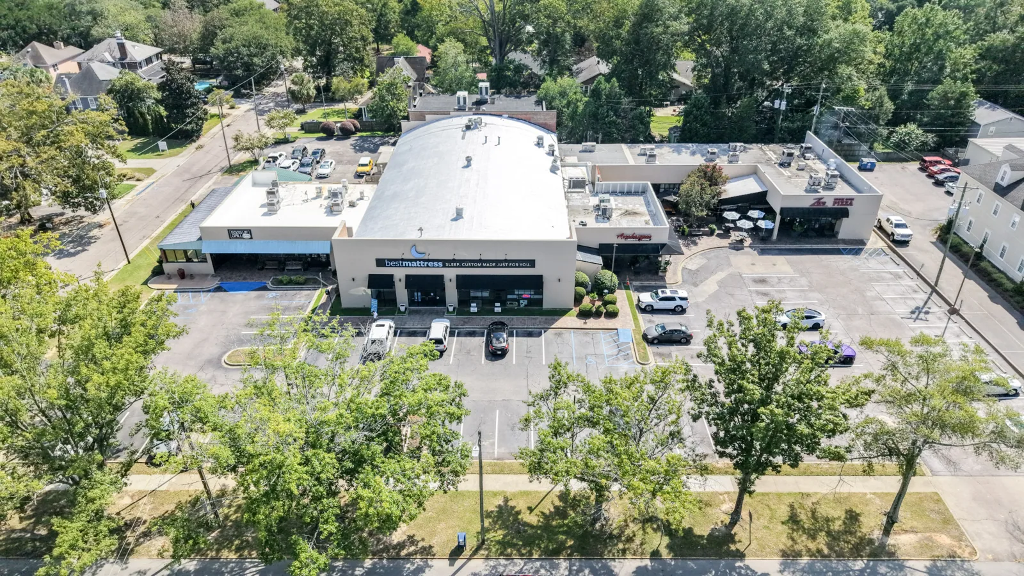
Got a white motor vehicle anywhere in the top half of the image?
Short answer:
Yes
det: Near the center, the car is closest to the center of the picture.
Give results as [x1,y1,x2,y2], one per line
[485,323,509,357]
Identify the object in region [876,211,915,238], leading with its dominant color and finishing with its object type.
white truck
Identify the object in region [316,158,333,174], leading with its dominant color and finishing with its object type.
white car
